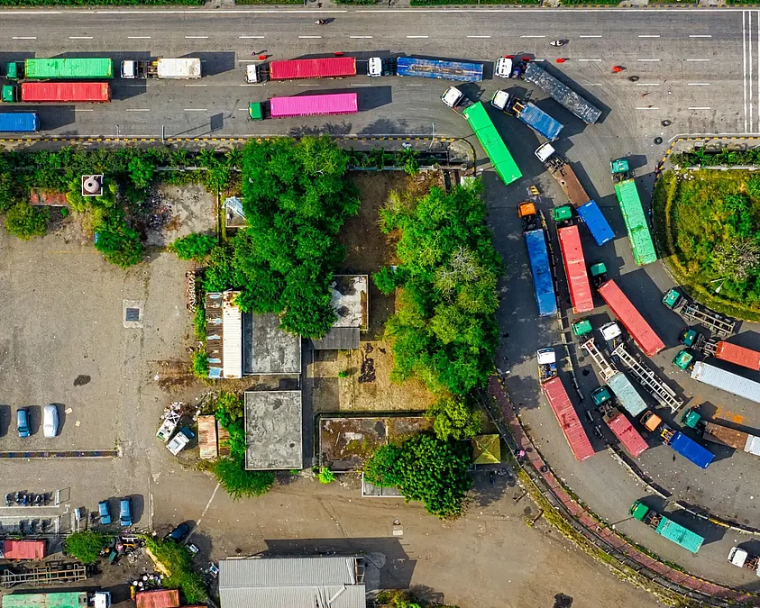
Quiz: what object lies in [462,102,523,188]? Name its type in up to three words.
shipping container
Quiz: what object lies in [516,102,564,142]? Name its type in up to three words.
shipping container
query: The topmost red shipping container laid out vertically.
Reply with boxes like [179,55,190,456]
[558,225,594,314]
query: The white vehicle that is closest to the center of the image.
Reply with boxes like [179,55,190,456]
[534,347,555,387]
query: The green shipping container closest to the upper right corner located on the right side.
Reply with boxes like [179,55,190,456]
[615,179,659,268]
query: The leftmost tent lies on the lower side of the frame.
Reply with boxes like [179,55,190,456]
[472,433,501,463]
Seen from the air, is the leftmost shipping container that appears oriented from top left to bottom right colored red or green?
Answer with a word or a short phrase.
green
